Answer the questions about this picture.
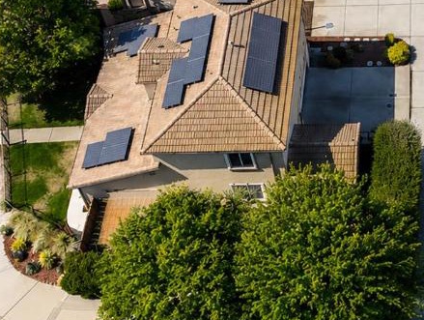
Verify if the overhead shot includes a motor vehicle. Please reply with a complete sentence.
No, I can see no motor vehicle in this picture.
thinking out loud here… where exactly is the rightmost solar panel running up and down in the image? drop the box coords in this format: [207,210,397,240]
[243,10,282,91]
